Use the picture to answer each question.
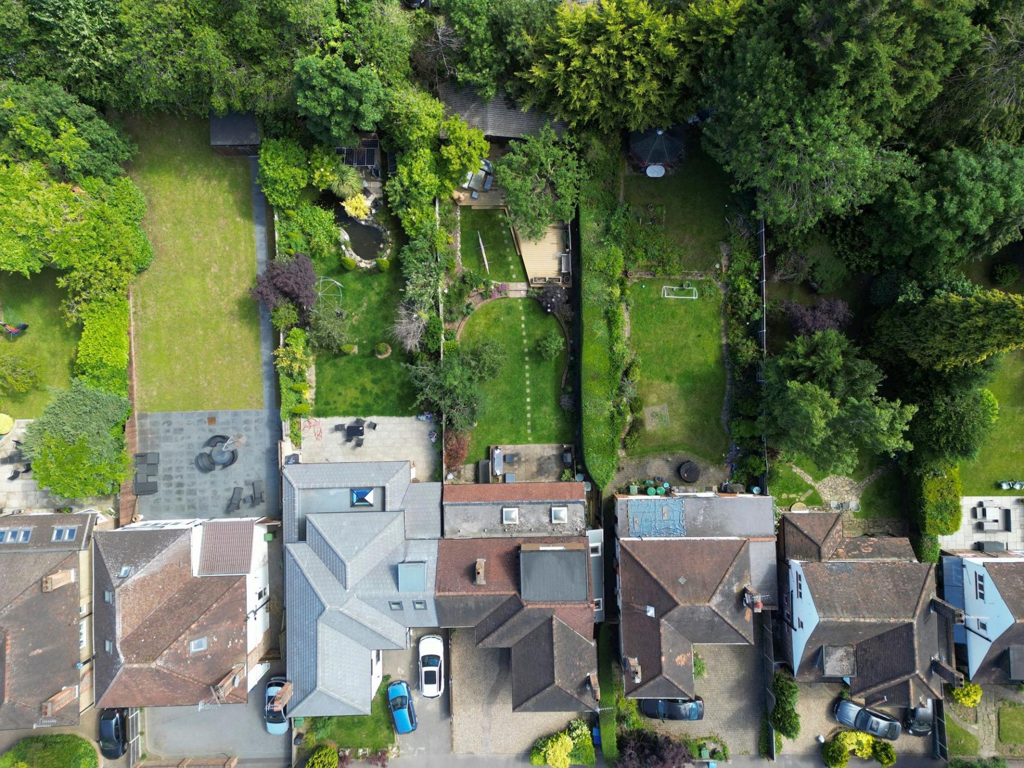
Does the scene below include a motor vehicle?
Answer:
Yes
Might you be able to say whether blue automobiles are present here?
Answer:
Yes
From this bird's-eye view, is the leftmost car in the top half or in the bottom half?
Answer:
bottom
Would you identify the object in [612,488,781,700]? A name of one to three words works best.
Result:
house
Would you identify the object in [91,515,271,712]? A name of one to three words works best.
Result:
house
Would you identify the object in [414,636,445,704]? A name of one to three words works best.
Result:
car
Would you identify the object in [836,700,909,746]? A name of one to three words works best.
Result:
car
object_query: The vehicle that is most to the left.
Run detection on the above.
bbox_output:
[91,707,124,766]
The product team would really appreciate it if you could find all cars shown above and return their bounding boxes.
[91,707,124,766]
[907,699,940,747]
[836,700,909,746]
[414,636,445,704]
[259,679,289,739]
[642,696,707,729]
[387,682,417,740]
